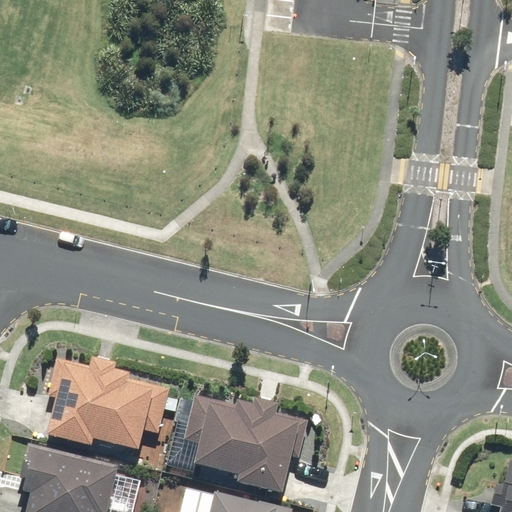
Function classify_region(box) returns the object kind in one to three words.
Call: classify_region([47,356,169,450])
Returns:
house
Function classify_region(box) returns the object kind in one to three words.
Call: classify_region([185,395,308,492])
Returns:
house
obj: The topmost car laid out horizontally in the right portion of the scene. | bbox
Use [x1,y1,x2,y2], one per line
[296,466,329,484]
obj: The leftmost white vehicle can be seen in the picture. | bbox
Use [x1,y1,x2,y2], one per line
[58,232,84,248]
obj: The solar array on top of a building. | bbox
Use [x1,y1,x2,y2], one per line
[53,378,76,418]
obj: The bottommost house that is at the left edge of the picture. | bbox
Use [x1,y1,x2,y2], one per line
[16,443,118,512]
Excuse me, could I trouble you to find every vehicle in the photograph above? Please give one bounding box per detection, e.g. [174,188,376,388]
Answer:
[464,501,498,512]
[0,220,16,234]
[58,232,84,248]
[296,466,329,484]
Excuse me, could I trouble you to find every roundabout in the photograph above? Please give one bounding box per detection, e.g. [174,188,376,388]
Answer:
[390,324,458,392]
